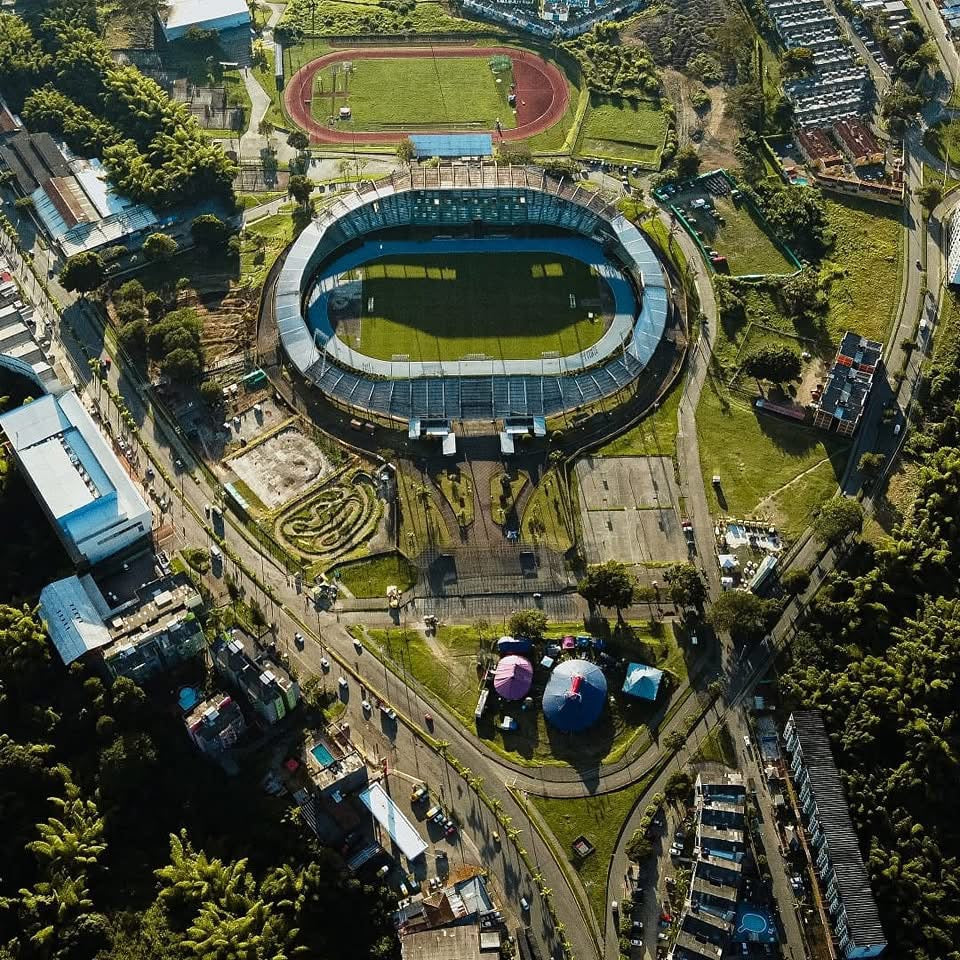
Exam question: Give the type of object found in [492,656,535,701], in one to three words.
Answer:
tent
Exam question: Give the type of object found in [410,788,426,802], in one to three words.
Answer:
vehicle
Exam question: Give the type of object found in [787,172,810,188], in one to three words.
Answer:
swimming pool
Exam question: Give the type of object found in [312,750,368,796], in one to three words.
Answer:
house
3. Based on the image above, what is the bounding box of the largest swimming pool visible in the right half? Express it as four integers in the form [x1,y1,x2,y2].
[731,905,778,943]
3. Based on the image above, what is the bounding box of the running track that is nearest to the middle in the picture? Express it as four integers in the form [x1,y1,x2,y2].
[307,236,637,376]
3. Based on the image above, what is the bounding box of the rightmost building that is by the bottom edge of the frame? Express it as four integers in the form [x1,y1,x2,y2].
[769,710,888,960]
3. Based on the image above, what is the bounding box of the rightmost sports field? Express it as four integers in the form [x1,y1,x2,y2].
[574,92,668,170]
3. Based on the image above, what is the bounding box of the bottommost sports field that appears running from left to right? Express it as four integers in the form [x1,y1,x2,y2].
[356,256,606,360]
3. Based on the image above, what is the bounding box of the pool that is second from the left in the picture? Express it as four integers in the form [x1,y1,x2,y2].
[307,738,340,774]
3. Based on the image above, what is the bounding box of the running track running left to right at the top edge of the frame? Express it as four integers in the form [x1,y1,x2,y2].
[285,41,570,142]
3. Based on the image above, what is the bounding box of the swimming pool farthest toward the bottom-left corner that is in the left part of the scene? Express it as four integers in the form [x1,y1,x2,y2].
[173,697,196,717]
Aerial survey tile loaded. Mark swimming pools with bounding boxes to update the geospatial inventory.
[787,172,810,188]
[731,905,778,943]
[173,697,196,717]
[307,738,340,774]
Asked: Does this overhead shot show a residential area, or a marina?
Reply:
residential area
